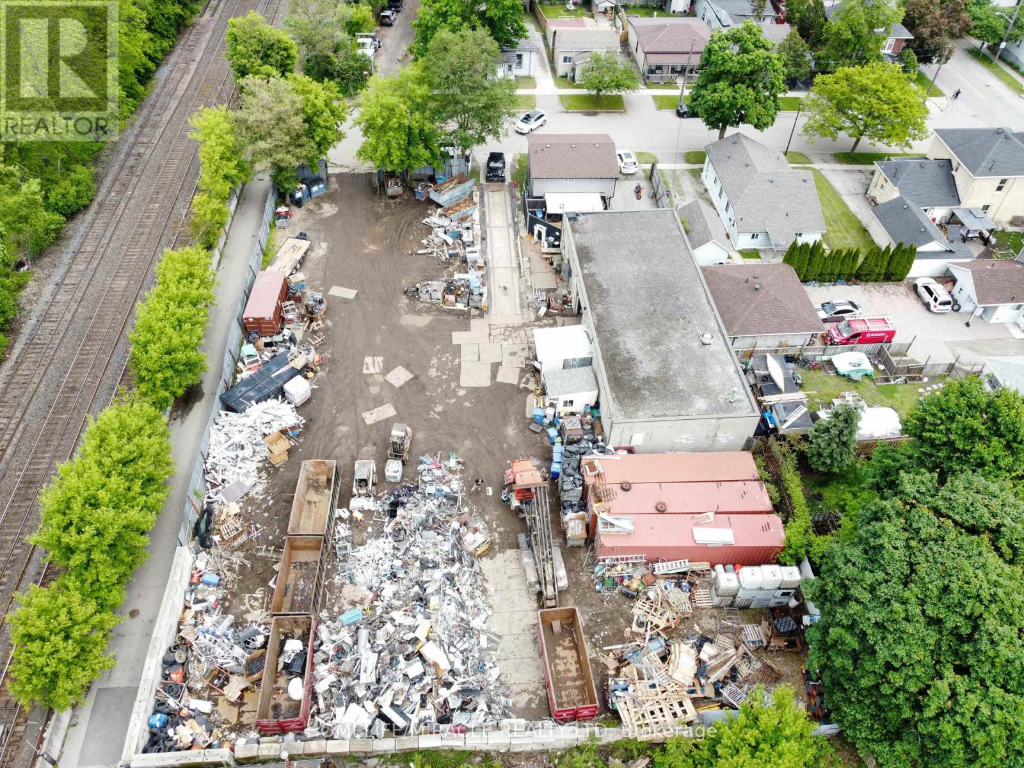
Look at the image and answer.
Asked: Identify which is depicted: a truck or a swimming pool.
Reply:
truck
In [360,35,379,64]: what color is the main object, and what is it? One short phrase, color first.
white vehicle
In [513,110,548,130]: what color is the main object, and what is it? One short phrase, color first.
white car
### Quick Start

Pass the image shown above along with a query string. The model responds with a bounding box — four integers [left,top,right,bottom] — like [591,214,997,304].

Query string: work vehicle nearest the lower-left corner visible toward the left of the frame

[344,459,378,516]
